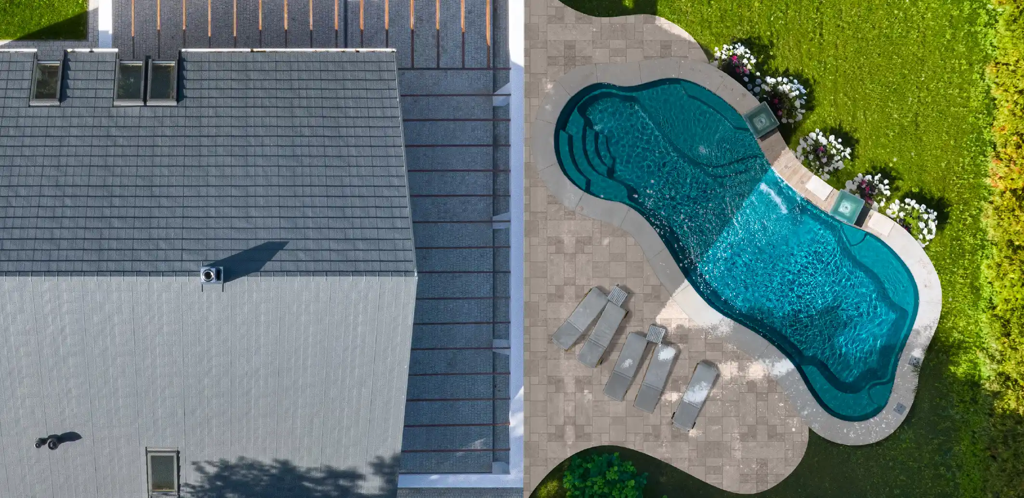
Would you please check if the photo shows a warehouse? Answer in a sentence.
No, no warehouse is visible in the scene.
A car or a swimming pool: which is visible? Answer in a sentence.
The one in the frame is a swimming pool.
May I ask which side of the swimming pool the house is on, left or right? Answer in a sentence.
Relative to the swimming pool, the house is on the left.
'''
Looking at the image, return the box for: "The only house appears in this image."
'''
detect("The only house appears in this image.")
[0,47,420,498]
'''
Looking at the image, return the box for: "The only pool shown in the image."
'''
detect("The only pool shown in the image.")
[533,57,942,446]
